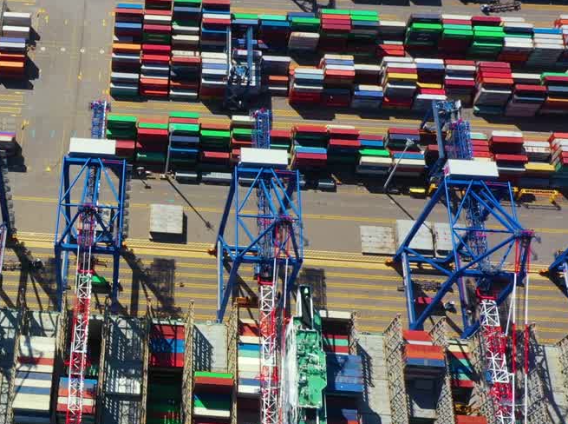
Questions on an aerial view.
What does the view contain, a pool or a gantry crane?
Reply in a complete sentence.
Visible in the photo is a gantry crane.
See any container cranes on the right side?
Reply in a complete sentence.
Yes, a container crane can be seen on the right side.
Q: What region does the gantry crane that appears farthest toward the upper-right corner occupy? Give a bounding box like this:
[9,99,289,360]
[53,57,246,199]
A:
[415,103,465,190]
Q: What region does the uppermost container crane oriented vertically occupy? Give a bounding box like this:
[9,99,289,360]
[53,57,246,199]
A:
[216,29,251,115]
